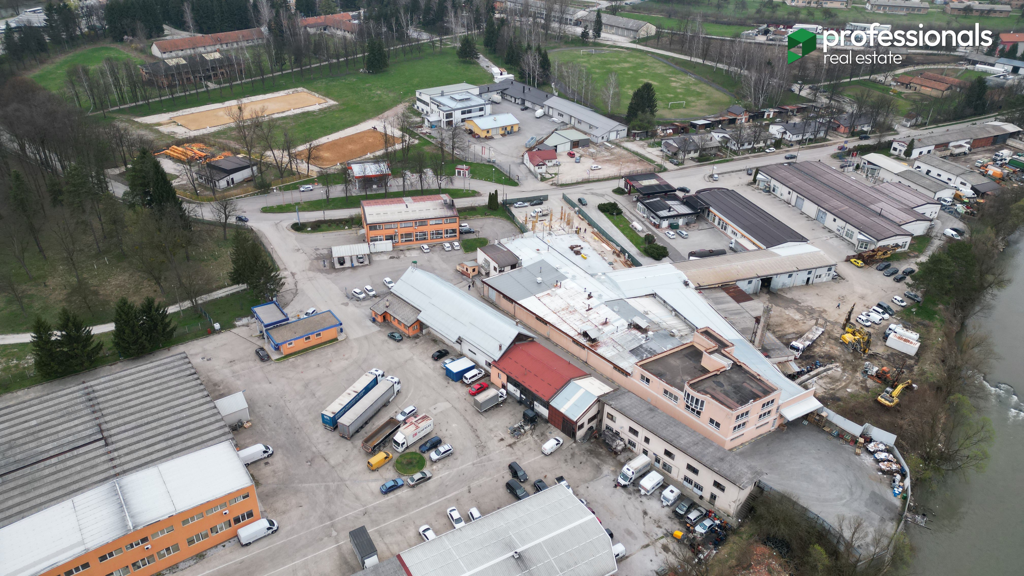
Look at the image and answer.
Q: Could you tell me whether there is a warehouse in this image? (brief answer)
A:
Yes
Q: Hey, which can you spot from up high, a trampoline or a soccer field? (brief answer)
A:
soccer field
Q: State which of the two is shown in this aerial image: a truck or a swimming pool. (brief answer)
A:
truck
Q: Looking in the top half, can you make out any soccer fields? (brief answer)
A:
Yes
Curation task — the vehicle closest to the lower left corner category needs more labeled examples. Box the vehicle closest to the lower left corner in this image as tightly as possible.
[233,515,276,542]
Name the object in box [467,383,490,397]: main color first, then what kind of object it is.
red car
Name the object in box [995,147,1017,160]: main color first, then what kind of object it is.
white vehicle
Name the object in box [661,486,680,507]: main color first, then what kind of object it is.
white camper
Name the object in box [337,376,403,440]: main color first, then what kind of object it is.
white truck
